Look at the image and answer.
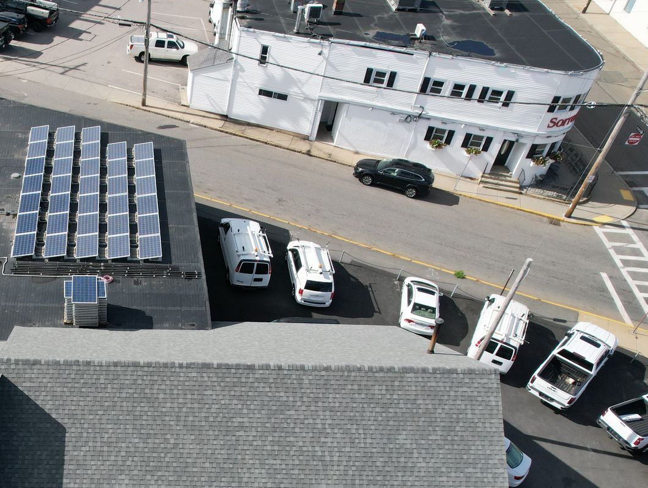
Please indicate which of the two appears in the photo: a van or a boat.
van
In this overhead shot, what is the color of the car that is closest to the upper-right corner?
black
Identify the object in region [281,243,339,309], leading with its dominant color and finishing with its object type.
white vehicle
